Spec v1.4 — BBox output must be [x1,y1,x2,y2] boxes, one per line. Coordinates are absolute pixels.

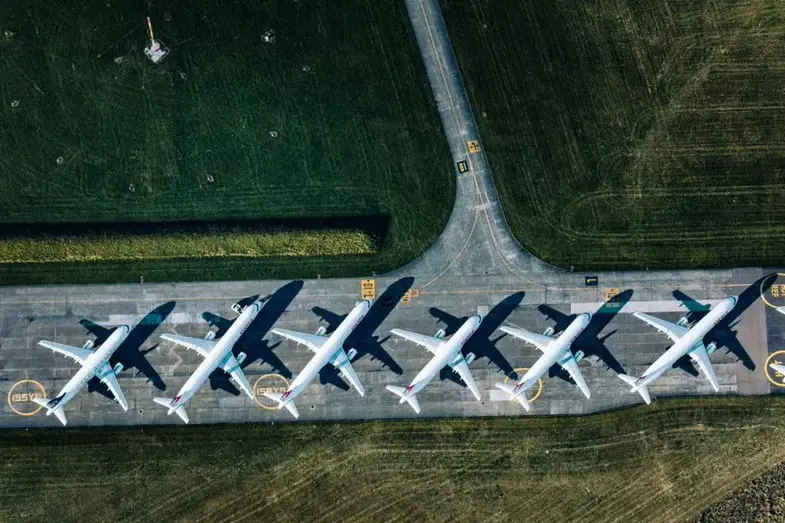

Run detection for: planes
[498,314,593,410]
[33,325,130,424]
[386,317,482,414]
[619,296,738,403]
[265,301,372,418]
[153,302,263,423]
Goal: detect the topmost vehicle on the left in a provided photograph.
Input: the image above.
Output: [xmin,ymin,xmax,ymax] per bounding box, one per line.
[228,300,247,316]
